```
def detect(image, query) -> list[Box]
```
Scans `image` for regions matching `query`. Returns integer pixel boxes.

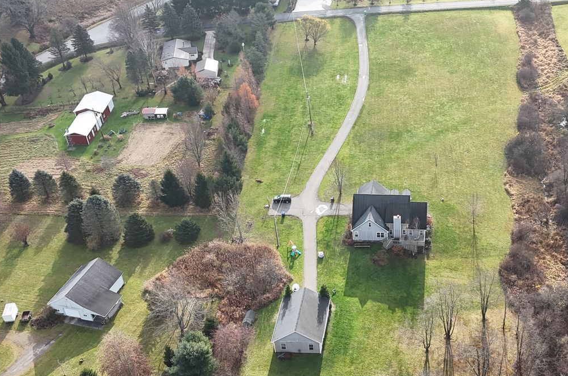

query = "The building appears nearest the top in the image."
[162,38,198,68]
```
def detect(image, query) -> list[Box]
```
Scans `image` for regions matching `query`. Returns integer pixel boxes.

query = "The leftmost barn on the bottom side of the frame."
[48,257,126,322]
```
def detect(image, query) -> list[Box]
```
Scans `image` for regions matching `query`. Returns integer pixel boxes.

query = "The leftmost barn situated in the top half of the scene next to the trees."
[60,88,117,145]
